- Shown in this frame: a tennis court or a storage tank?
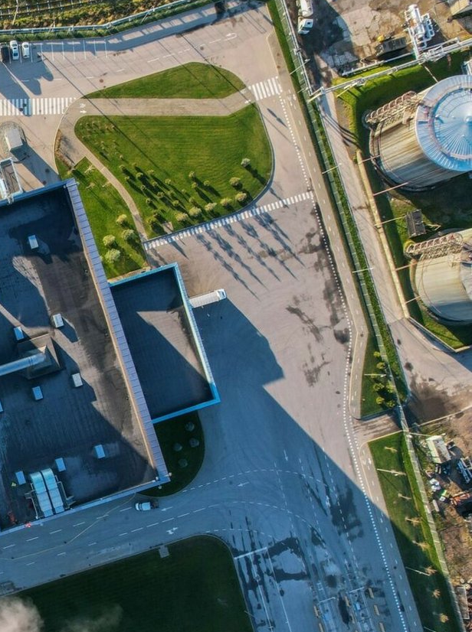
storage tank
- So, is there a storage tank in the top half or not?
Yes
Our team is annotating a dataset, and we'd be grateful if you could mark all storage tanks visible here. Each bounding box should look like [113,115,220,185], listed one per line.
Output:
[401,227,472,332]
[362,74,472,195]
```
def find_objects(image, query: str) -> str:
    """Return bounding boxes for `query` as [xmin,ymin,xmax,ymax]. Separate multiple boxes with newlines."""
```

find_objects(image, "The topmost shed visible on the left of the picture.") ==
[2,128,24,153]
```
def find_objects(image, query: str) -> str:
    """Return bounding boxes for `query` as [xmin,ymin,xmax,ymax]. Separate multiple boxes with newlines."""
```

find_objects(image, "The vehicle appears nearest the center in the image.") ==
[188,286,236,309]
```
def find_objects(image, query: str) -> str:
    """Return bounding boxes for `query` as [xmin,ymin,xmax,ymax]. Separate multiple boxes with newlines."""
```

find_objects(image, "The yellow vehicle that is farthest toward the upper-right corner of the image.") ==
[375,29,398,43]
